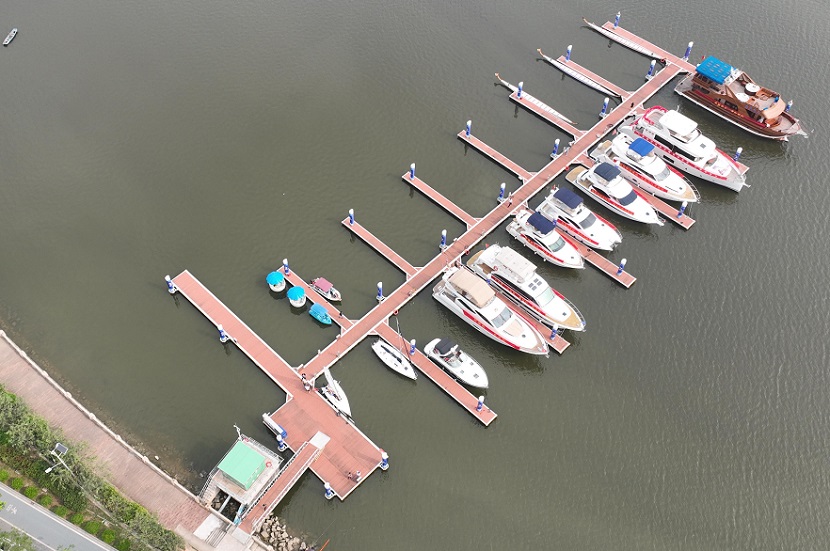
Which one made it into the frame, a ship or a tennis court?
ship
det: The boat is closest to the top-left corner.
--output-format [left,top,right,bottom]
[2,28,17,46]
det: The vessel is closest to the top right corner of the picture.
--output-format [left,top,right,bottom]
[672,53,809,139]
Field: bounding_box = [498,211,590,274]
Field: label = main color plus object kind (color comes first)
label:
white boat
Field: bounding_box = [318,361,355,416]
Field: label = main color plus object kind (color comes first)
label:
white boat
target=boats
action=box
[585,126,704,205]
[582,13,665,64]
[498,211,590,274]
[524,179,622,253]
[425,338,489,390]
[370,319,419,379]
[536,45,621,100]
[268,274,286,293]
[306,301,331,327]
[288,288,306,308]
[318,361,355,416]
[2,28,17,46]
[612,94,748,190]
[422,265,550,362]
[457,243,588,335]
[558,154,669,227]
[494,70,580,126]
[310,276,339,303]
